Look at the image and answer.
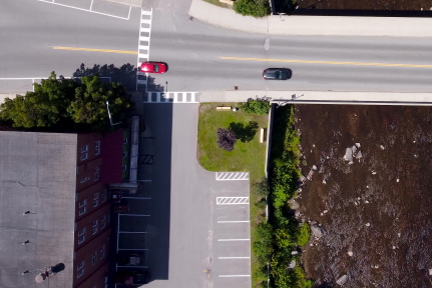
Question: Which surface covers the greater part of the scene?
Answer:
paved ground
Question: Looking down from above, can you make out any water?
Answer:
Yes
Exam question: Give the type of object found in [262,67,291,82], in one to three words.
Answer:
car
